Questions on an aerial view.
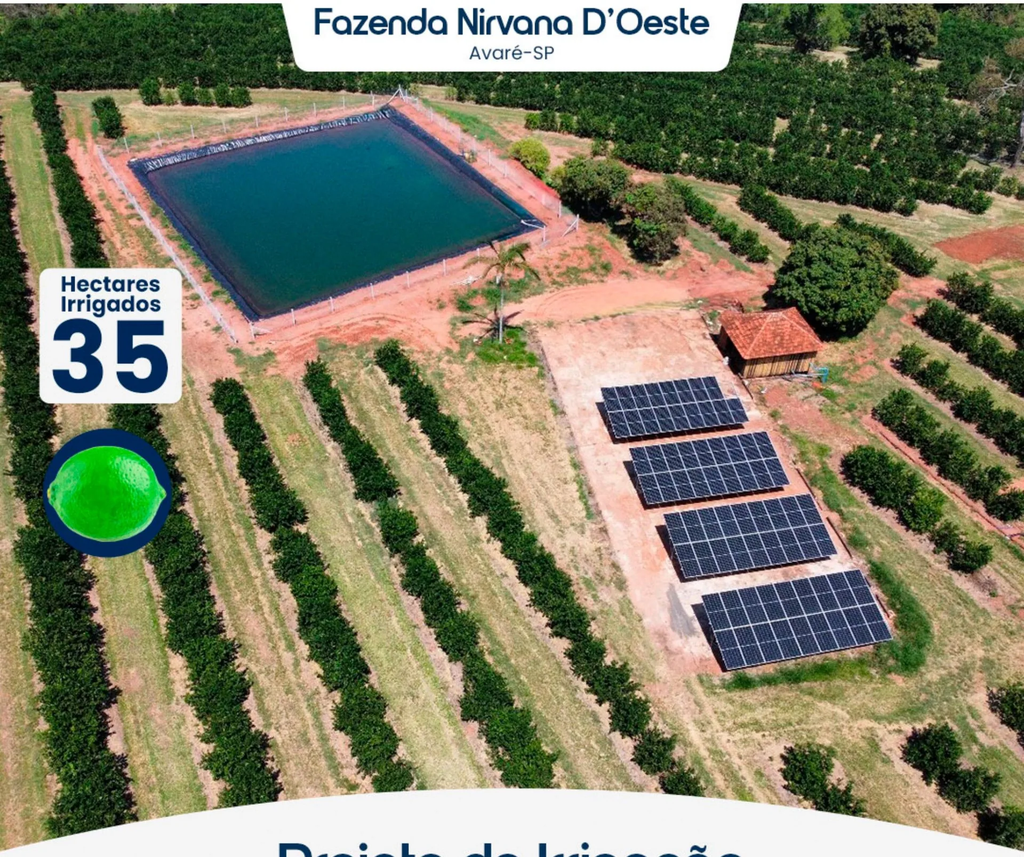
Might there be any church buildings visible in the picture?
No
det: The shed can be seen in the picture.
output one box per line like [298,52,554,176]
[719,307,828,377]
